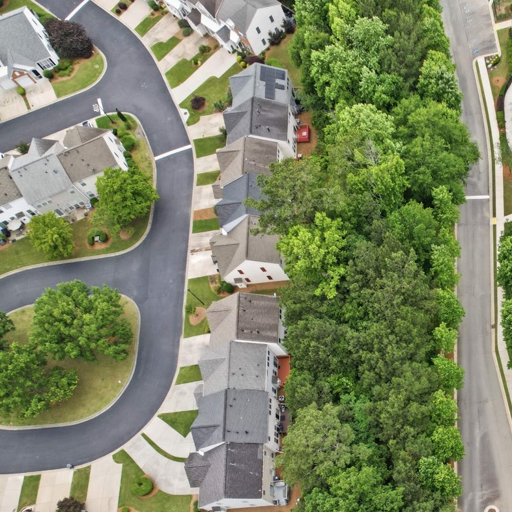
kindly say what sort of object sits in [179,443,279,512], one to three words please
house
